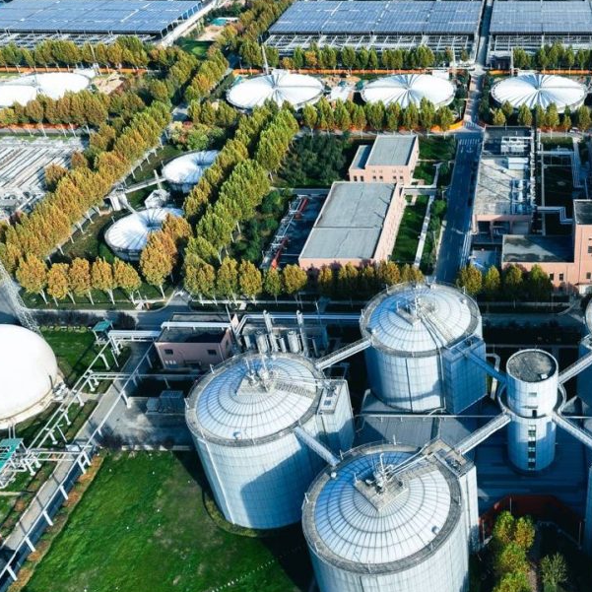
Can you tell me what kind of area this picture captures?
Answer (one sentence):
It's an industrial area.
